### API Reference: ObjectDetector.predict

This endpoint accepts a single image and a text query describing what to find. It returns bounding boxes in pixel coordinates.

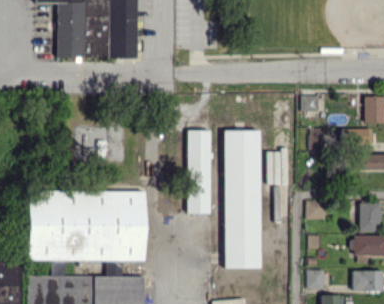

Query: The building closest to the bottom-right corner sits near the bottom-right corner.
[352,270,384,291]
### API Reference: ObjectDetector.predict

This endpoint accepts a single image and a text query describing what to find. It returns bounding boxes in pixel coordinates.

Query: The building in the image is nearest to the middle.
[187,130,212,214]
